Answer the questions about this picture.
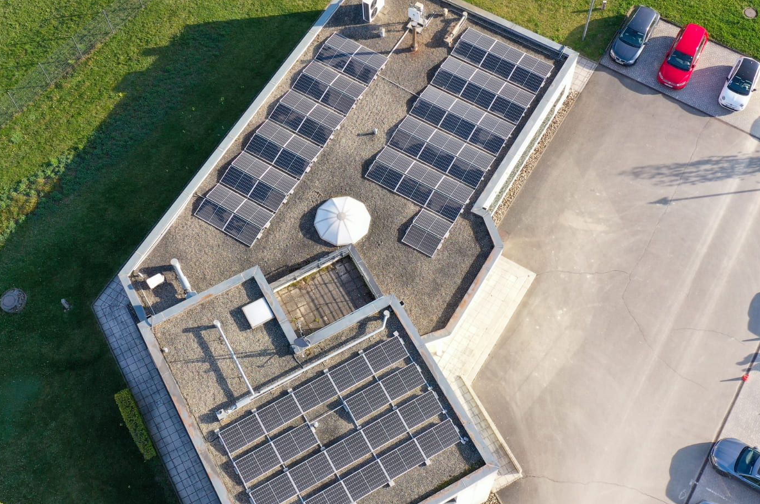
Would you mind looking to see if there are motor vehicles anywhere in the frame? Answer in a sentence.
Yes, there's a motor vehicle here.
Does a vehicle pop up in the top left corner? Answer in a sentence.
No, looking in the top left corner, there is no vehicle.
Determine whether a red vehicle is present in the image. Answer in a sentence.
Yes, the frame does contain a red vehicle.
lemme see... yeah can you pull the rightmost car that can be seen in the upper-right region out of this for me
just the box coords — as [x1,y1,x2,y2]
[717,53,760,112]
